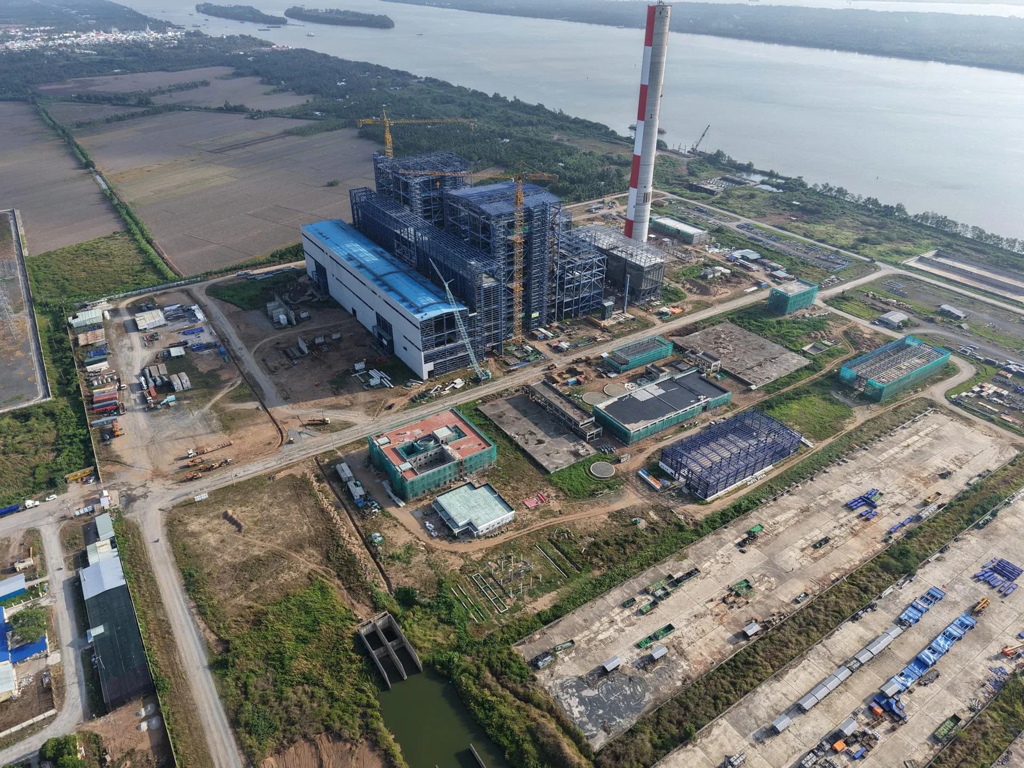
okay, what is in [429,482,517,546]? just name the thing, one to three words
building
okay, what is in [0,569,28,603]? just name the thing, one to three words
house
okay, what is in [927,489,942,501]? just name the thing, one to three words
vehicle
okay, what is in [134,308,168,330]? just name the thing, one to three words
shed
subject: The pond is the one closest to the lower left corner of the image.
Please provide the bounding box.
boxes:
[372,657,511,768]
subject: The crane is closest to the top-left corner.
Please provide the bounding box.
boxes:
[359,111,476,206]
